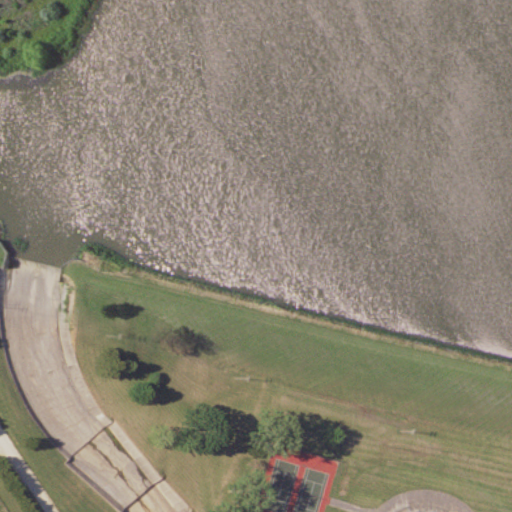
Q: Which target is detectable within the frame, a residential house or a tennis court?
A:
tennis court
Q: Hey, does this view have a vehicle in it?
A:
No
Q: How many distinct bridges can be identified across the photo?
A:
zero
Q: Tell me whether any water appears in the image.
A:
Yes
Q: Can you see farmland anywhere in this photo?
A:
No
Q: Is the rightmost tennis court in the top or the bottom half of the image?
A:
bottom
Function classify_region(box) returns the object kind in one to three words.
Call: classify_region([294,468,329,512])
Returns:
tennis court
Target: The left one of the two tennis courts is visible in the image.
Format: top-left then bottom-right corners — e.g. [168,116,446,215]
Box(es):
[264,460,299,512]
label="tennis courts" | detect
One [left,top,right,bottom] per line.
[264,460,299,512]
[294,468,329,512]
